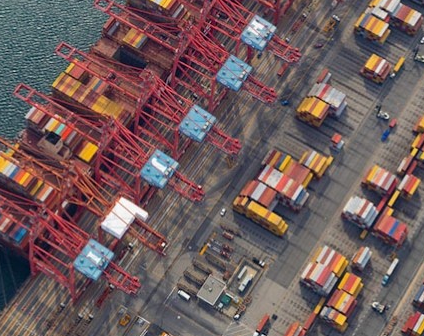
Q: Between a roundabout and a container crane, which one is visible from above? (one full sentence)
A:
There is a container crane in the scene.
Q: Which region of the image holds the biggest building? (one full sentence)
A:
The biggest building sits in the bottom section of the image.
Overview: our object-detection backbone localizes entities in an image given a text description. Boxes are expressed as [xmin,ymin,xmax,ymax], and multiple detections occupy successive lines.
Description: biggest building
[197,272,228,305]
